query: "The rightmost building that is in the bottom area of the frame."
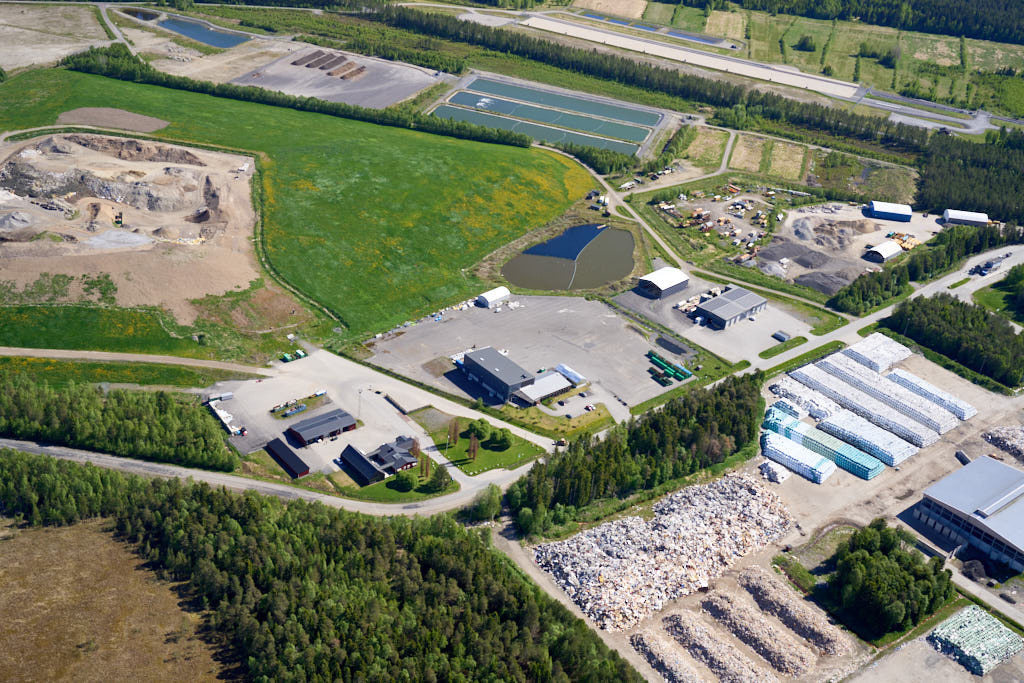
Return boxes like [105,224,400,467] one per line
[919,453,1024,569]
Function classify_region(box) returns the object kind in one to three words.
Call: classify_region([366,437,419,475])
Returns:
house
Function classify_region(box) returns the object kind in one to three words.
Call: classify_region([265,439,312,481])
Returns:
shed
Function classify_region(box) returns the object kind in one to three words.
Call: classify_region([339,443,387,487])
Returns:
barn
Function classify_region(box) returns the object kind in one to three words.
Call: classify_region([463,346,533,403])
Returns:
building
